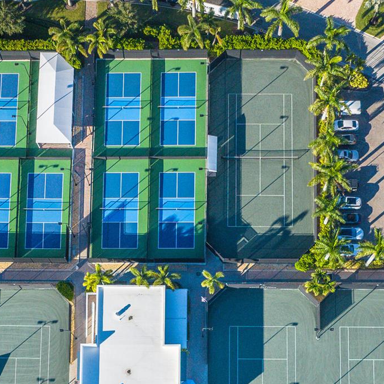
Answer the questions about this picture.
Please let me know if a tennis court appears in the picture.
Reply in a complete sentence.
Yes, there is a tennis court in the image.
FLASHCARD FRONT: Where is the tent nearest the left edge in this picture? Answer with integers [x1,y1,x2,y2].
[37,53,76,149]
